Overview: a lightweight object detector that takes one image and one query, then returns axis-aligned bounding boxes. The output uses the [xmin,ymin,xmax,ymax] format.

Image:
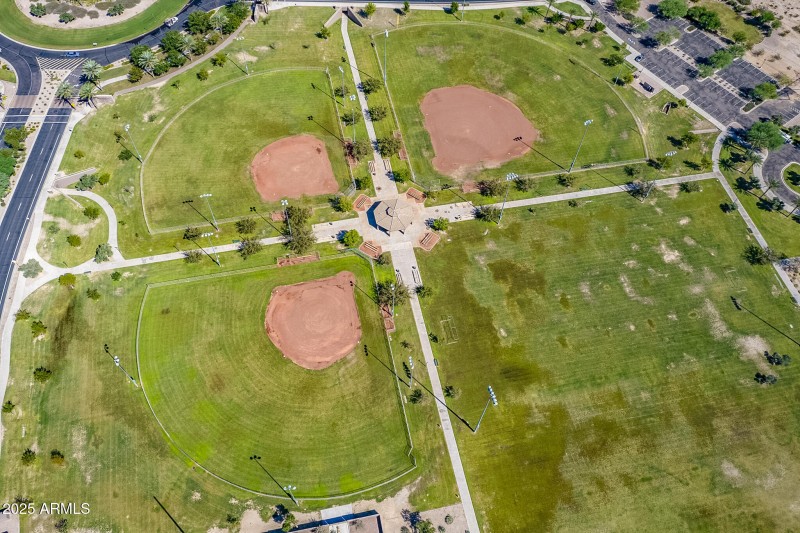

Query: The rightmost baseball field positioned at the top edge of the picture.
[370,21,648,191]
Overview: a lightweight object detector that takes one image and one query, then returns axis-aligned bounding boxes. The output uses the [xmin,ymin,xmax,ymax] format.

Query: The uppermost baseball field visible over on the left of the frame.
[139,66,358,235]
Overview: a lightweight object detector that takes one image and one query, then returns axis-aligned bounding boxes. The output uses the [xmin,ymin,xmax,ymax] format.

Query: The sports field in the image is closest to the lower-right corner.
[414,180,800,533]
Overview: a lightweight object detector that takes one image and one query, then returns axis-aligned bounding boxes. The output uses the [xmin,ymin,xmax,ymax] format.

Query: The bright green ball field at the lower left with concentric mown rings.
[136,252,417,500]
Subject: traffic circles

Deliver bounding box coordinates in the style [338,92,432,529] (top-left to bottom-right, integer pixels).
[0,0,219,70]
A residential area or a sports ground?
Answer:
sports ground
